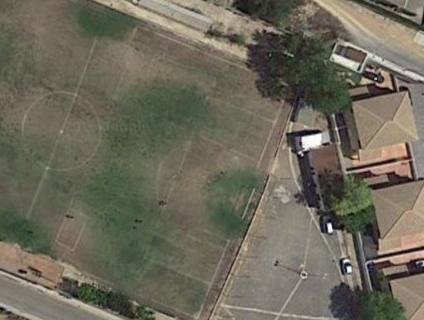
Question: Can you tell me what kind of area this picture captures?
sports ground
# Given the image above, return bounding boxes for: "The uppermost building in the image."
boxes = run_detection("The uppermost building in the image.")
[325,41,369,64]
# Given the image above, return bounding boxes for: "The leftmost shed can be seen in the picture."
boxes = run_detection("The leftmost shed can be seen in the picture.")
[290,107,318,129]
